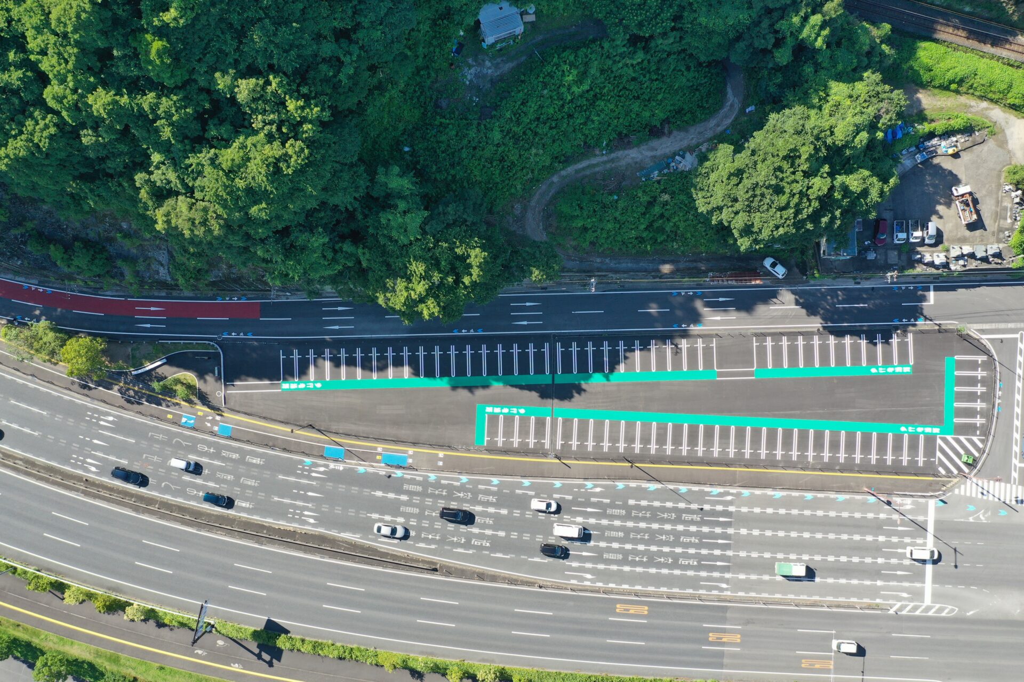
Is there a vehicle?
Yes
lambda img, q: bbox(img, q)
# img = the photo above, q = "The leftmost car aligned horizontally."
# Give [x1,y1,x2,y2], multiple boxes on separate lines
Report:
[110,466,143,483]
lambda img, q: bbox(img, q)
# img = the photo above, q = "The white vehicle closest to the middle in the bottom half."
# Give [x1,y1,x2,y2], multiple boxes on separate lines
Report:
[531,498,557,513]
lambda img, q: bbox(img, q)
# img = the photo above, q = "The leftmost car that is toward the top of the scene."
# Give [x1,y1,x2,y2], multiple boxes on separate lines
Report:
[762,256,787,280]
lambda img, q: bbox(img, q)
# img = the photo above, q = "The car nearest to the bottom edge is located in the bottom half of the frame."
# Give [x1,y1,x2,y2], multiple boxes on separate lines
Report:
[832,639,856,653]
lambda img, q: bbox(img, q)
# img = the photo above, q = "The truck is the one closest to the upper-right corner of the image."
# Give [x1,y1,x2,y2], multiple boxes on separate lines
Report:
[950,185,978,224]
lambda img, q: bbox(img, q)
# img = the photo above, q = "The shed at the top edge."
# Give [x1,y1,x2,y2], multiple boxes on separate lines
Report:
[479,1,524,42]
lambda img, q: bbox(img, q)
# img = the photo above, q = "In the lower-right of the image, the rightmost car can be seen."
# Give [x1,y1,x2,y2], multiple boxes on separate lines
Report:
[906,547,936,561]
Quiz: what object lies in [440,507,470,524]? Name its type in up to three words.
car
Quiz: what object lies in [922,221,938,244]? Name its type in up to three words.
vehicle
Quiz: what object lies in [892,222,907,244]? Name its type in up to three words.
vehicle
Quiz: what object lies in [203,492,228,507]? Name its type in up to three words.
car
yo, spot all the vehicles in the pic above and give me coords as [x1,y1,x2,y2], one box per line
[776,562,804,578]
[950,185,978,224]
[922,221,938,244]
[906,547,936,561]
[374,522,405,538]
[110,466,143,483]
[531,498,557,513]
[203,492,228,507]
[762,256,787,280]
[554,523,582,539]
[832,639,856,653]
[907,220,923,243]
[170,456,196,471]
[892,222,907,244]
[440,507,470,524]
[541,543,565,558]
